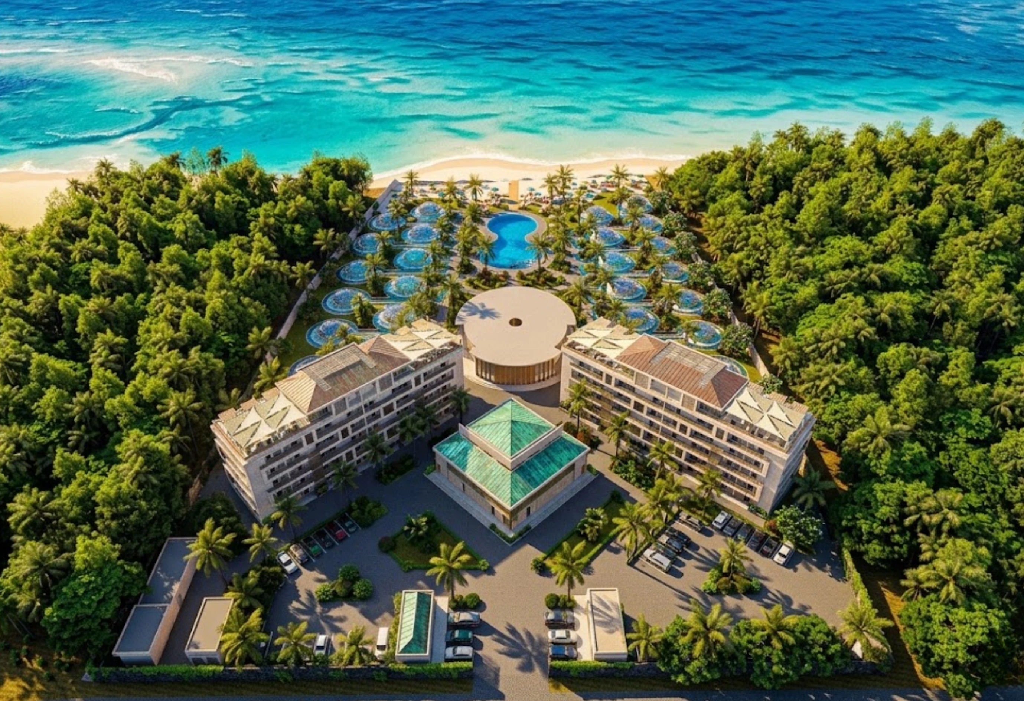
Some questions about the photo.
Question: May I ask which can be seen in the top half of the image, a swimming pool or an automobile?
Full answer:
You can see a swimming pool in the top half of the image.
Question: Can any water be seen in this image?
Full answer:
Yes, water can be seen from above here.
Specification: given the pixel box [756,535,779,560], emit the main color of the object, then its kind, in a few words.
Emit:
black car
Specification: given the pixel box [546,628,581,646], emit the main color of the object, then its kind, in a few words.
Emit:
white car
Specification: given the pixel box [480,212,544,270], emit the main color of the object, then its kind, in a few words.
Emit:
blue swimming pool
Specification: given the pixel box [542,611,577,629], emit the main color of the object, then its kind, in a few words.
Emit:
gray car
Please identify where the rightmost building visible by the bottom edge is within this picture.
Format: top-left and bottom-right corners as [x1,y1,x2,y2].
[588,587,627,666]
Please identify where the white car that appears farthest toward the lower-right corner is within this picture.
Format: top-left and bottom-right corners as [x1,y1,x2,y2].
[772,542,795,567]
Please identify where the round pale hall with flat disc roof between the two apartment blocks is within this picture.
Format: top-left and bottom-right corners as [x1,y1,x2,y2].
[454,290,576,392]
